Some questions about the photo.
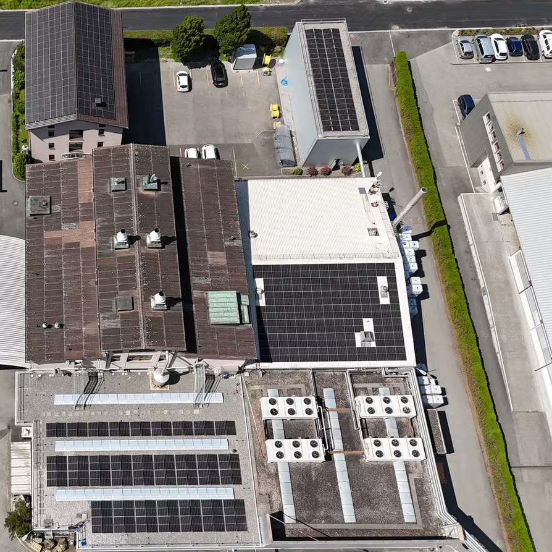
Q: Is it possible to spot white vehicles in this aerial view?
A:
Yes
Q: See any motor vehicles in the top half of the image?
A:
Yes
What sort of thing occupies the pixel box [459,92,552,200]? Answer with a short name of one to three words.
building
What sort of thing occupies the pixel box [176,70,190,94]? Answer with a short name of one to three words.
car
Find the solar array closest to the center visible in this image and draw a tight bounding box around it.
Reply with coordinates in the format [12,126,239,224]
[252,262,407,361]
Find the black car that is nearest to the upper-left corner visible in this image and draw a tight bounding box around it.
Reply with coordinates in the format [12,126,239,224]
[210,61,227,89]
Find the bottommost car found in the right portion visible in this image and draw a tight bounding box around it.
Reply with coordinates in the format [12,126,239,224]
[454,94,475,120]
